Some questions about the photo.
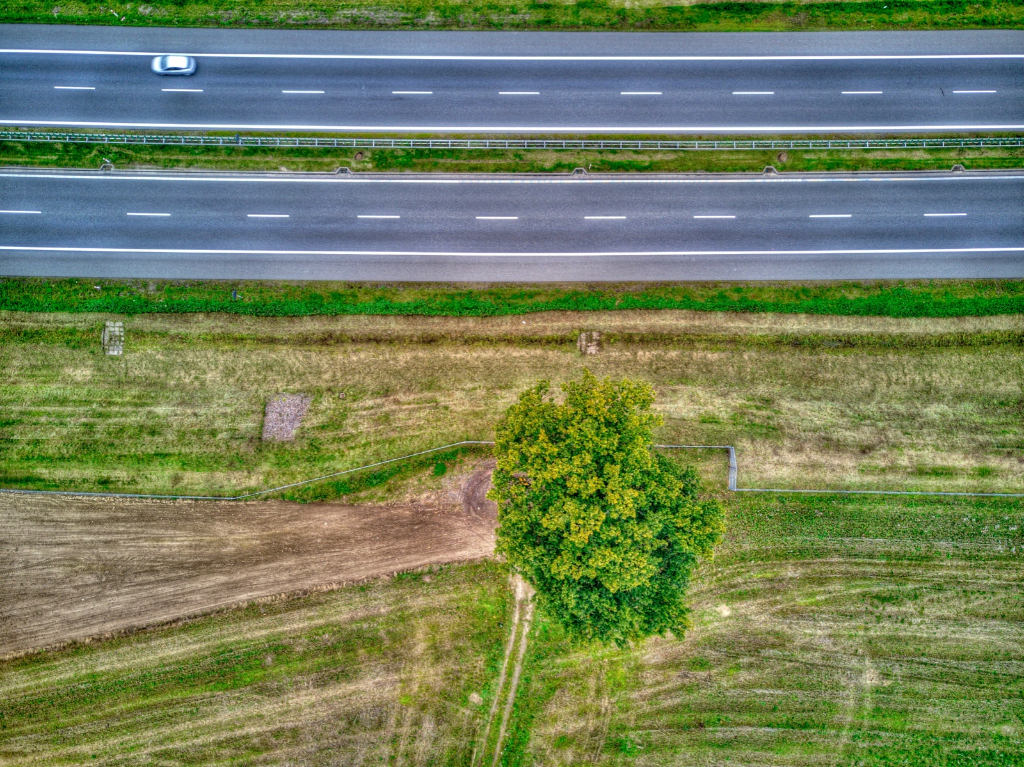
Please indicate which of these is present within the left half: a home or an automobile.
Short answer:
automobile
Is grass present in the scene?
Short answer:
Yes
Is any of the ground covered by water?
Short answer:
No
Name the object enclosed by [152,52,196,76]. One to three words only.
car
